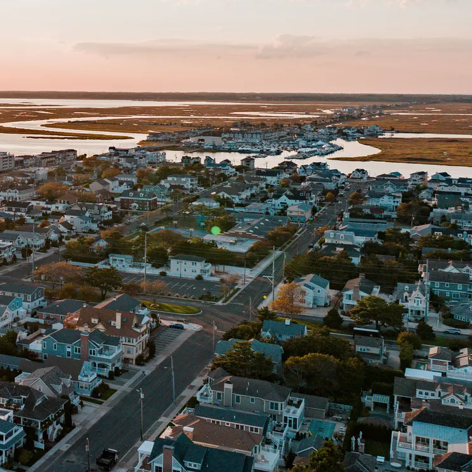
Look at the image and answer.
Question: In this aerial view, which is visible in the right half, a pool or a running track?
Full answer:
Visible in the right half is a pool.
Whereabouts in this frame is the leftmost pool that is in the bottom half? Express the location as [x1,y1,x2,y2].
[304,415,351,443]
